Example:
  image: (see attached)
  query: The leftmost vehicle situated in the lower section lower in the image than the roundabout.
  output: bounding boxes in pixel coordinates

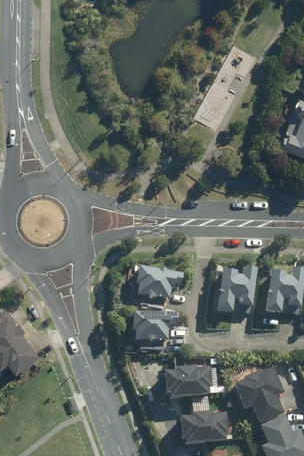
[28,303,40,320]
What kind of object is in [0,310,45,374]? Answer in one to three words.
house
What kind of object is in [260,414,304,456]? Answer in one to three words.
house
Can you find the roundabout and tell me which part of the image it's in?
left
